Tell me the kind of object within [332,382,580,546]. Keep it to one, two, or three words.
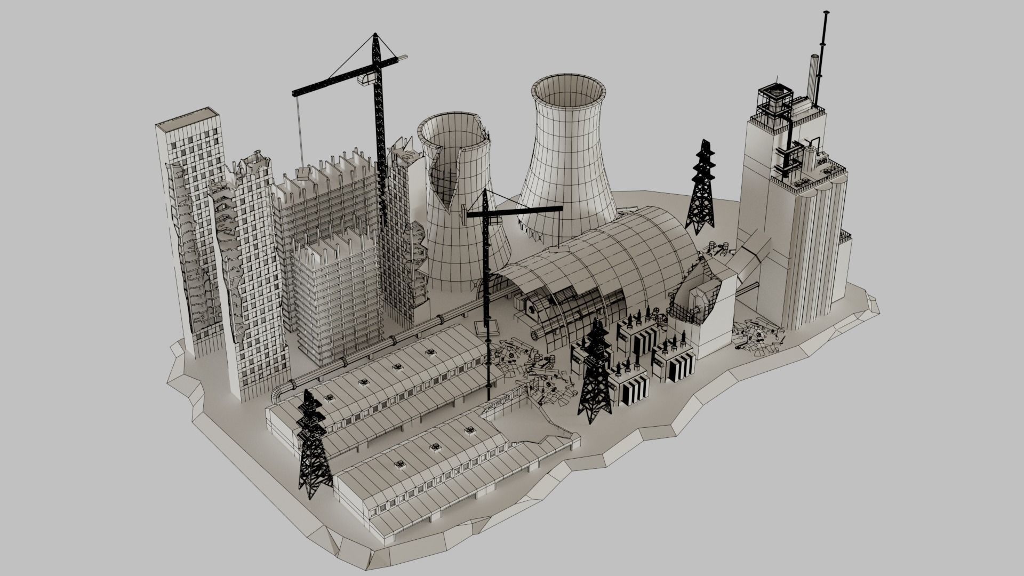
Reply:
warehouse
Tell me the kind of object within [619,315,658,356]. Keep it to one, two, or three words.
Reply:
storage tank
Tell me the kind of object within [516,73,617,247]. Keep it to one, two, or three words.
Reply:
cooling tower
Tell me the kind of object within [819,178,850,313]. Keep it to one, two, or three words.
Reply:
silo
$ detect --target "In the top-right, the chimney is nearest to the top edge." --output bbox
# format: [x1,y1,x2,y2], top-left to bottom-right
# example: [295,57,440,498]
[805,52,819,110]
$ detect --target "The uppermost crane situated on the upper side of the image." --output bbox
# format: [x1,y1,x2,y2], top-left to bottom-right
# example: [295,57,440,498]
[293,32,413,223]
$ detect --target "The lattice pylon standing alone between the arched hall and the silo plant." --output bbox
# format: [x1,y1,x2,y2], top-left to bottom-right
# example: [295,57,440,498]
[685,142,716,236]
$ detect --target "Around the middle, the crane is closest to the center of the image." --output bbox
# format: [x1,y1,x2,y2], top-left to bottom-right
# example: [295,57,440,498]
[458,187,563,326]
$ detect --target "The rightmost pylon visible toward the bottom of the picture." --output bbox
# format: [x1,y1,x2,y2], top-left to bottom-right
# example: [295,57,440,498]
[577,321,612,425]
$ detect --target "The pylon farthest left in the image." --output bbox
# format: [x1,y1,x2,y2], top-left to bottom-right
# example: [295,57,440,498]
[295,392,333,500]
